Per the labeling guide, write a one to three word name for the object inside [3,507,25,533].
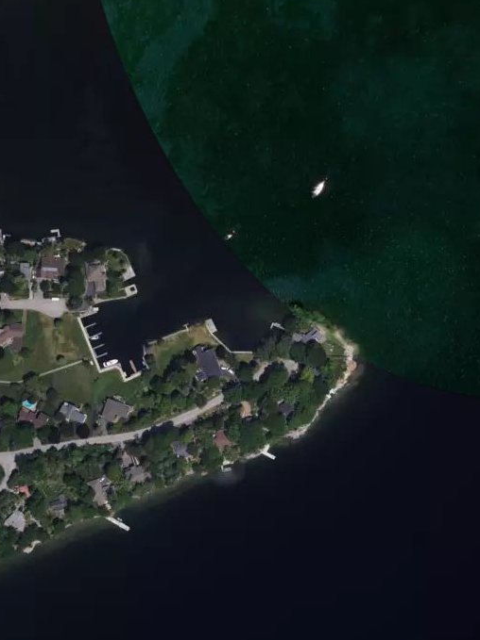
house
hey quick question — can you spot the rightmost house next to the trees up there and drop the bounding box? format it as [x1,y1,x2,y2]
[292,327,327,346]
